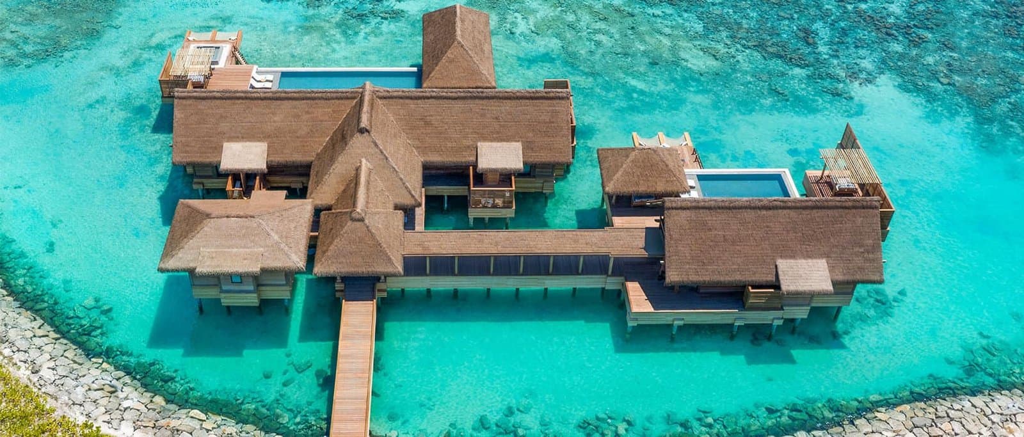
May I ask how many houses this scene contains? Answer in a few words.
2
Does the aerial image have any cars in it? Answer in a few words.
No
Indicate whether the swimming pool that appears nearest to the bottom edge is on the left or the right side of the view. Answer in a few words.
right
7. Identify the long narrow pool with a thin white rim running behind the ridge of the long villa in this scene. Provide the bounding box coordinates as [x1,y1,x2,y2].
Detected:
[247,66,422,89]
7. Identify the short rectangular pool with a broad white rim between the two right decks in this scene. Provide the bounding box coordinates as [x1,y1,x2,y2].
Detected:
[685,168,800,196]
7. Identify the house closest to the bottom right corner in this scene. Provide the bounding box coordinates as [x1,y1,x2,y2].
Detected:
[619,195,887,347]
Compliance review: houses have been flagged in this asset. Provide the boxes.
[619,195,887,347]
[169,79,575,230]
